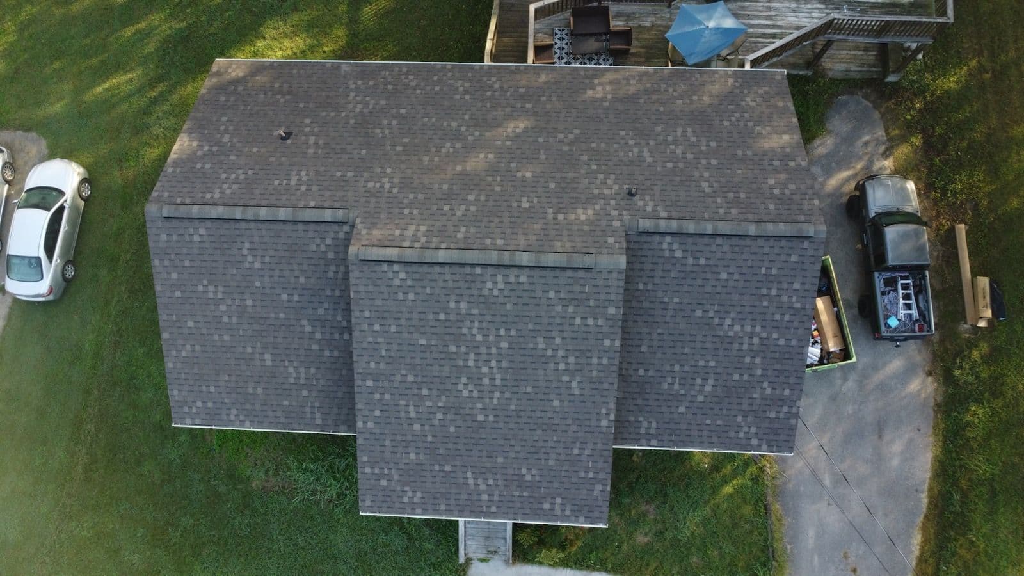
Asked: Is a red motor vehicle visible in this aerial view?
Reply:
No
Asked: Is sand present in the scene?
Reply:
No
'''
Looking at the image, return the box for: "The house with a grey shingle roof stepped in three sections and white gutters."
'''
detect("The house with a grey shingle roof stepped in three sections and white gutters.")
[146,55,825,532]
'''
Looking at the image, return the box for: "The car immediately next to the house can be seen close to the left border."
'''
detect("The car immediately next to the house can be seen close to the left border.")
[3,161,96,306]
